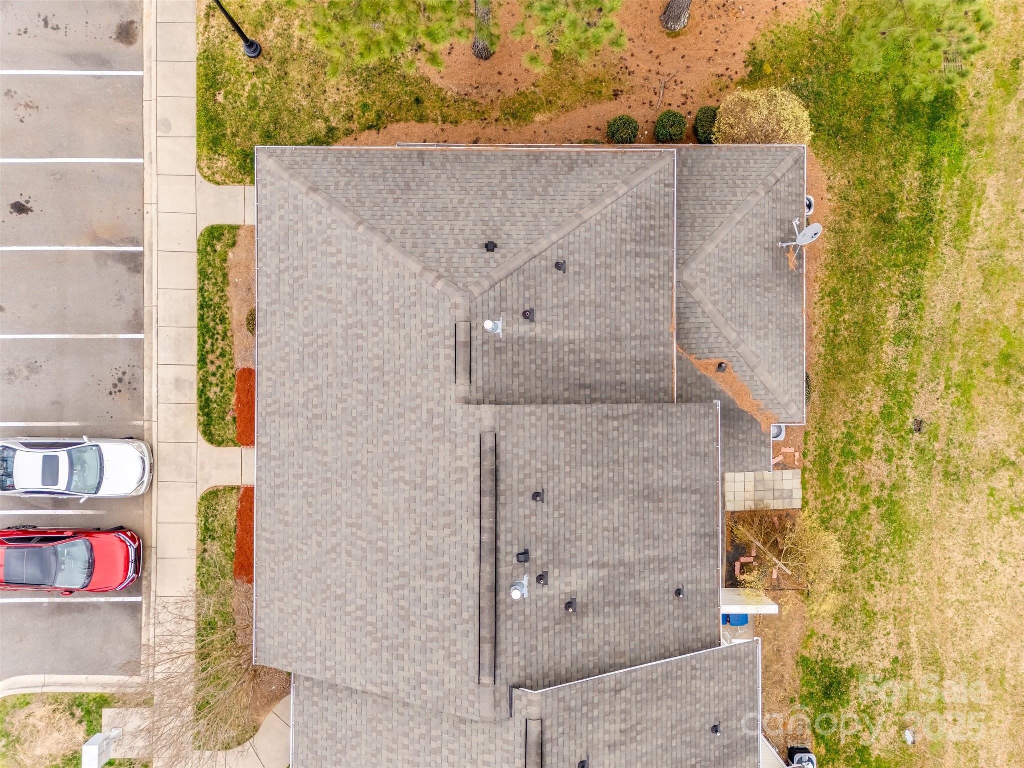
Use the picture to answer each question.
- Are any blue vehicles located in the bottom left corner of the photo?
No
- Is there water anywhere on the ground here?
No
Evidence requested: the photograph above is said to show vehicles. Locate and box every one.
[0,432,155,505]
[0,524,143,600]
